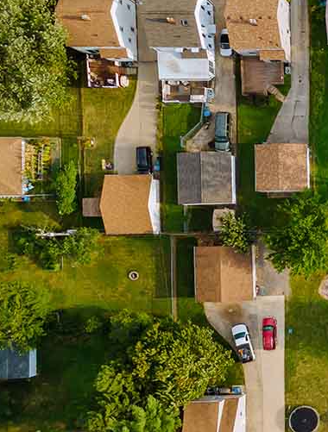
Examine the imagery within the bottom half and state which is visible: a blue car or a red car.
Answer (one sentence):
Looking within the bottom half, you will find a red car.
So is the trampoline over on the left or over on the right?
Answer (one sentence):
The trampoline sits on the right side.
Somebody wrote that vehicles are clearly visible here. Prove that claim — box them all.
[260,316,277,350]
[218,27,234,58]
[232,324,255,363]
[135,146,154,174]
[213,113,231,151]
